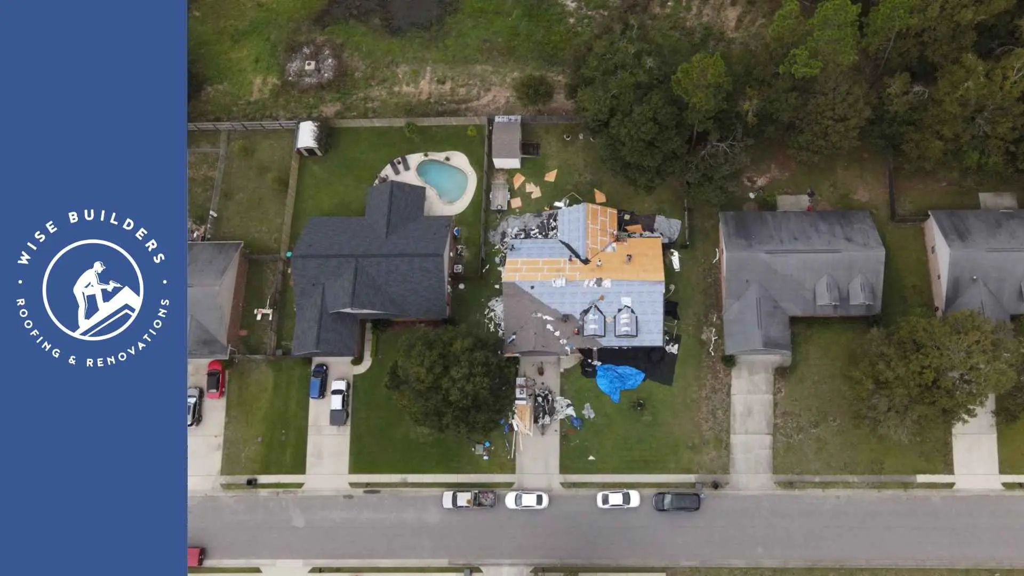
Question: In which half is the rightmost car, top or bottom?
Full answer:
Seen from above, the rightmost car lies in the bottom half of the view.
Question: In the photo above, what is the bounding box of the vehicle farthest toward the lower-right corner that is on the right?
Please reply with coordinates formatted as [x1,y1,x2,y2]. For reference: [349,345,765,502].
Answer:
[653,491,701,514]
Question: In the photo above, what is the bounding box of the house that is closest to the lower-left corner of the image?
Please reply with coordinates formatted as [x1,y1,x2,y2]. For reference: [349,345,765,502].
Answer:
[72,240,247,362]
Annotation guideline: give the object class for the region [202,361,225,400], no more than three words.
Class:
car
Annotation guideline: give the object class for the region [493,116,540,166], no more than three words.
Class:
shed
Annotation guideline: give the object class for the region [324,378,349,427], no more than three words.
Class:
truck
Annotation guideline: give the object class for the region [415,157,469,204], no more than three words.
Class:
swimming pool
